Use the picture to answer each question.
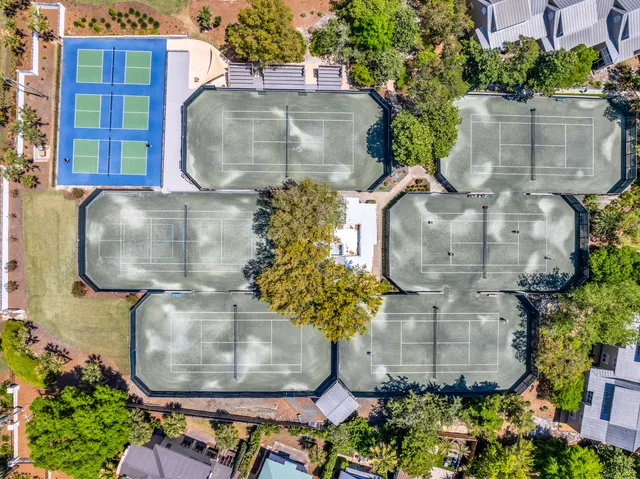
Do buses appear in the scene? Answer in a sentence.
No, no bus can be seen from above.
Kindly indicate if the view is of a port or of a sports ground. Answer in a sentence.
What you see here is a sports ground.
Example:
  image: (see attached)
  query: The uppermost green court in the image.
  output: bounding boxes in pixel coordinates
[76,46,152,86]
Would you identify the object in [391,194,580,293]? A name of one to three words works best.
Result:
tennis court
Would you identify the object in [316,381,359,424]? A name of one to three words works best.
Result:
building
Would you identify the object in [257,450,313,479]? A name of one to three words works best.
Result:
house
